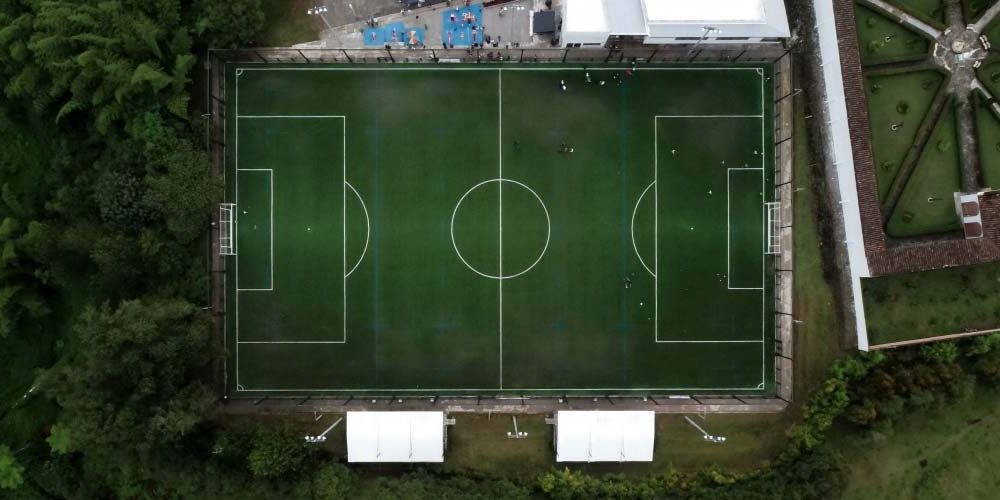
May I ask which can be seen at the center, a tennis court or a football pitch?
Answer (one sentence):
You can see a football pitch at the center.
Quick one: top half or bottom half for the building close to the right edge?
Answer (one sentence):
The building close to the right edge sits in the top half of the picture.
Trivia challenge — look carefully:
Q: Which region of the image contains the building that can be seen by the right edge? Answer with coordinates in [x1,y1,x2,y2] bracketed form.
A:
[814,0,1000,277]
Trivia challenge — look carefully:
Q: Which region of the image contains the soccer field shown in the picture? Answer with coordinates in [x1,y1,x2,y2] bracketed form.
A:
[225,62,775,397]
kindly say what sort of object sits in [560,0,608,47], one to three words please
building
